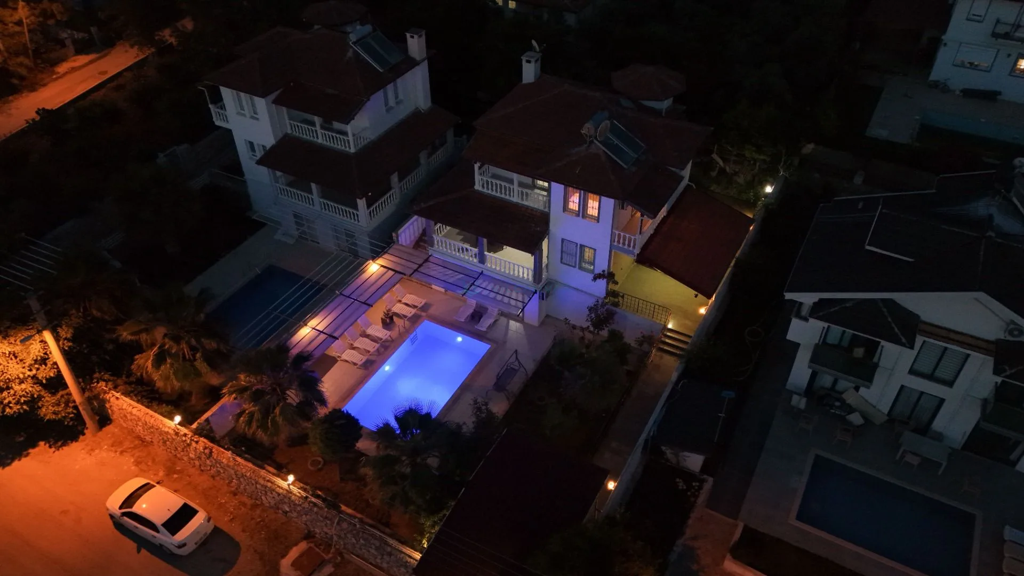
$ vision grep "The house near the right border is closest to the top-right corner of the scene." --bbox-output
[927,0,1024,102]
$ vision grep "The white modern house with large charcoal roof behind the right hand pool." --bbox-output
[782,173,1024,468]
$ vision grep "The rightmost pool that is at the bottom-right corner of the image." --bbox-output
[796,455,977,576]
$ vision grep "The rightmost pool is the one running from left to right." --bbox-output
[913,109,1024,166]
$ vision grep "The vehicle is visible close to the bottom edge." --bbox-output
[109,477,212,552]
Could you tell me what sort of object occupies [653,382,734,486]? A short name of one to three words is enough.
shed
